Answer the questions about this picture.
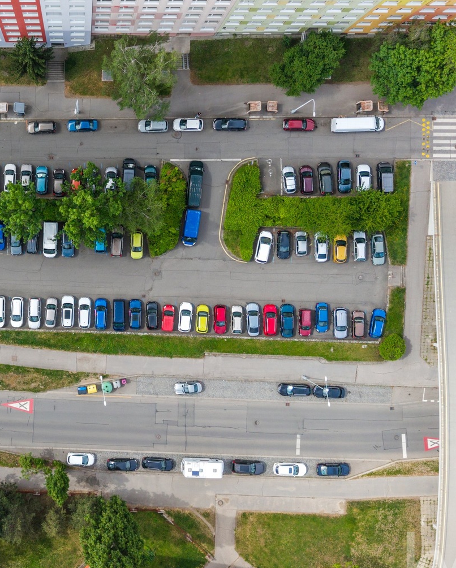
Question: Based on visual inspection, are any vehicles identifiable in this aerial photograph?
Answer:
Yes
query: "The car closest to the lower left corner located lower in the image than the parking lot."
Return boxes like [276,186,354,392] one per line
[67,452,94,468]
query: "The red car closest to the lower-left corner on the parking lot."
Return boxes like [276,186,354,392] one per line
[161,304,176,332]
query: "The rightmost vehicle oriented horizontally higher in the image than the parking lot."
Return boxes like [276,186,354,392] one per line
[329,115,382,133]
